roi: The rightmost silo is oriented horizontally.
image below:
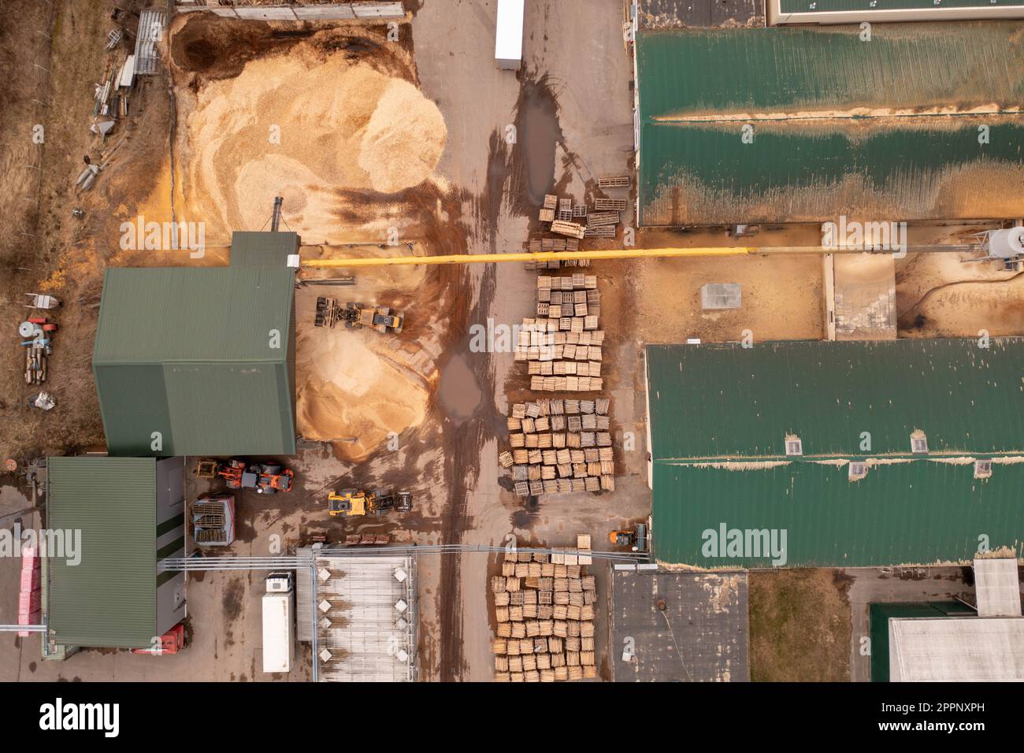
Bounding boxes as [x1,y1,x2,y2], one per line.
[944,228,1024,268]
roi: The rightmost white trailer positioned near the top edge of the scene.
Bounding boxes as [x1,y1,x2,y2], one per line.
[495,0,525,72]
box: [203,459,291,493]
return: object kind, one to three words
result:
work vehicle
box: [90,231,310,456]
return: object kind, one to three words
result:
shed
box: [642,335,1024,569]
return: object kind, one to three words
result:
building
